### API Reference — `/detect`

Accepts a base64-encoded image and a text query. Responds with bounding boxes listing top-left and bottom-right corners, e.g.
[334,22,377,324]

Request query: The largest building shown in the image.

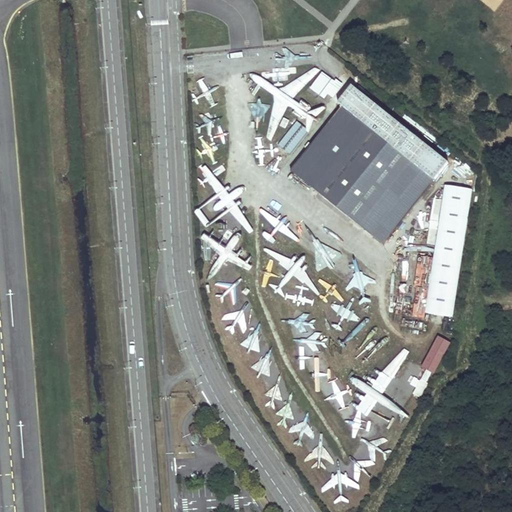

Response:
[290,86,452,244]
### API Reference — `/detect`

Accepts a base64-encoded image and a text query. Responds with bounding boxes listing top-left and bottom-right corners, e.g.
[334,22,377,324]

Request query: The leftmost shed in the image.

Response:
[278,121,306,152]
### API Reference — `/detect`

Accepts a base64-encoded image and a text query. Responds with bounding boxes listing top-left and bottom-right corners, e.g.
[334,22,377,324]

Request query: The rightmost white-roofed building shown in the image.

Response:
[426,183,472,317]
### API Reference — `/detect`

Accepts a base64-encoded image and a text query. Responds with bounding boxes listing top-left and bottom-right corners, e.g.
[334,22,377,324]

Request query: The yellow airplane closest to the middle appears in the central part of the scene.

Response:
[262,258,280,287]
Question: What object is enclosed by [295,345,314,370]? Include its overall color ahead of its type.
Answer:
white airplane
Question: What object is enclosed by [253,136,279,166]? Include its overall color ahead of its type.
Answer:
white airplane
